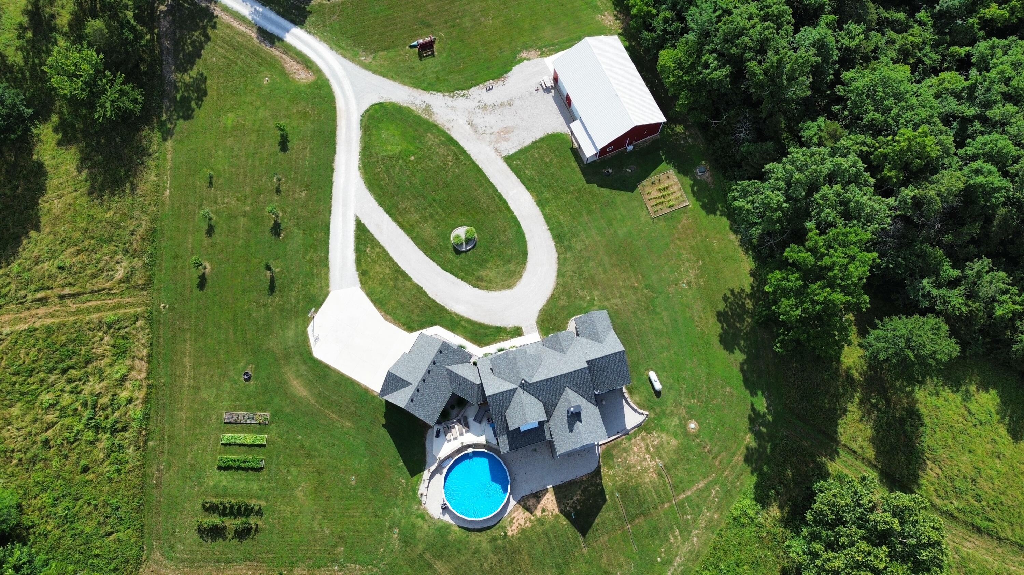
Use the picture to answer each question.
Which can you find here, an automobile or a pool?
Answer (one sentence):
The one in the frame is a pool.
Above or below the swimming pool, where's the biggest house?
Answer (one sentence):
The biggest house is located above the swimming pool in this view.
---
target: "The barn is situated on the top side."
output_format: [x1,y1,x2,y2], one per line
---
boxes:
[552,35,666,168]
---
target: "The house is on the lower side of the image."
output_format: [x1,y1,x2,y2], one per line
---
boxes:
[379,310,631,458]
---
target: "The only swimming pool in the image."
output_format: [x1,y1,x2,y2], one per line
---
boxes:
[442,450,511,522]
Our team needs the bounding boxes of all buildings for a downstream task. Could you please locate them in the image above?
[379,310,631,458]
[552,35,666,168]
